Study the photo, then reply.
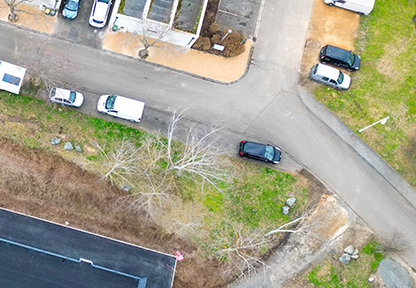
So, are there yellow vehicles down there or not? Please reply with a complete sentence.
No, there's no yellow vehicle here.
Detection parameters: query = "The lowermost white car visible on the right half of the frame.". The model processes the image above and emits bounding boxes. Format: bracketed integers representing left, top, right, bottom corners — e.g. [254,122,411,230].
[312,64,353,90]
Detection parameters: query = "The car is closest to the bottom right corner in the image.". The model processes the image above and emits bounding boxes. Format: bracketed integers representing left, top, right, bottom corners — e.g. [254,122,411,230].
[241,142,283,166]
